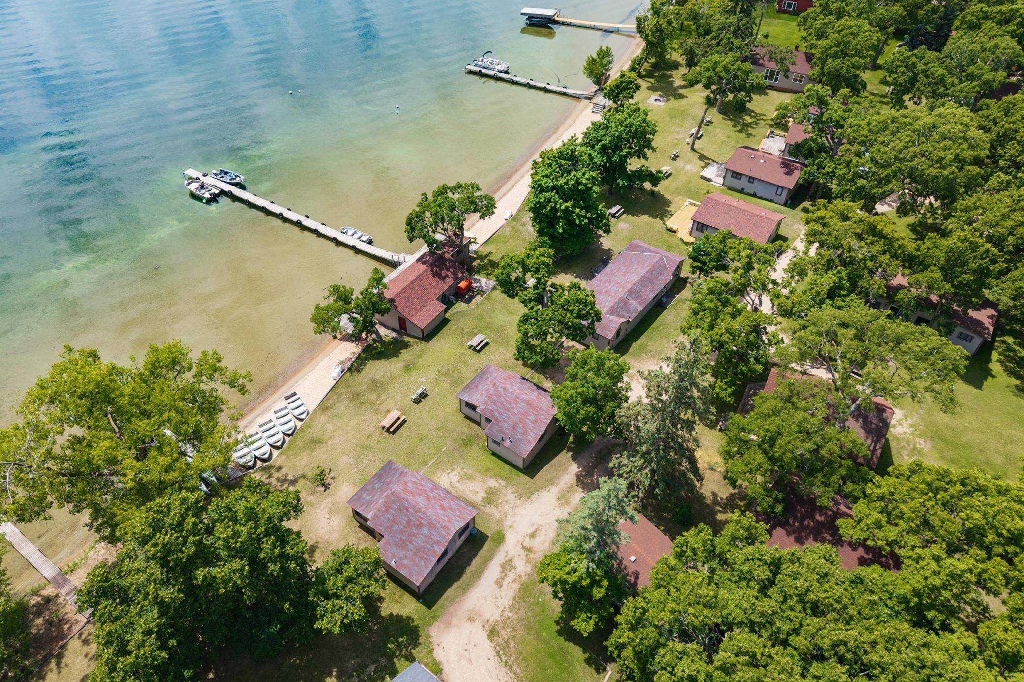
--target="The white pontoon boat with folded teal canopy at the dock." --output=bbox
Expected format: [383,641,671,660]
[471,52,510,74]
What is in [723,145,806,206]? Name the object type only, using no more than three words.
house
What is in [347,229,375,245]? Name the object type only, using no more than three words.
boat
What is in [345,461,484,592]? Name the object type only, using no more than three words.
building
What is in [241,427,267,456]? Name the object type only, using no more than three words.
boat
